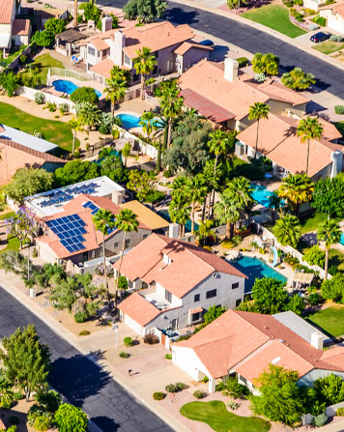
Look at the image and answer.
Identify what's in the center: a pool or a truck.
pool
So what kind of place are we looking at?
residential area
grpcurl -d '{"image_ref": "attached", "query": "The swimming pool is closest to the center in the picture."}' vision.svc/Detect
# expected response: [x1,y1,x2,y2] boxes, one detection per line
[153,207,204,232]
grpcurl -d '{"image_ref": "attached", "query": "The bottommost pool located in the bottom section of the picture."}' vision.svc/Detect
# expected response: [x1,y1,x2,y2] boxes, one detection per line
[233,254,290,288]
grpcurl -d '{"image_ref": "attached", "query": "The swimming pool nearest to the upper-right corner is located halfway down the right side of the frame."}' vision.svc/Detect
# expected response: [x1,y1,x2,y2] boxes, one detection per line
[245,179,287,208]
